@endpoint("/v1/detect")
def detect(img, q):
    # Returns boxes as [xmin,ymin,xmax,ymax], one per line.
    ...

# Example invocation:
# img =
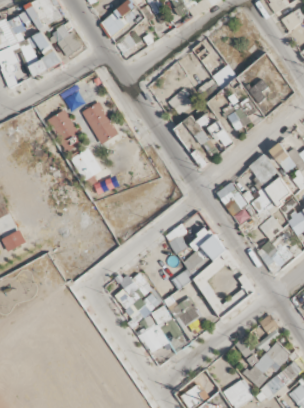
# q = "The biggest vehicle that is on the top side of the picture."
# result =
[254,1,269,20]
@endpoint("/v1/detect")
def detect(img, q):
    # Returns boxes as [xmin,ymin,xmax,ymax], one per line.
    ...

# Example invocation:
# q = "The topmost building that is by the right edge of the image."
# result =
[281,8,304,32]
